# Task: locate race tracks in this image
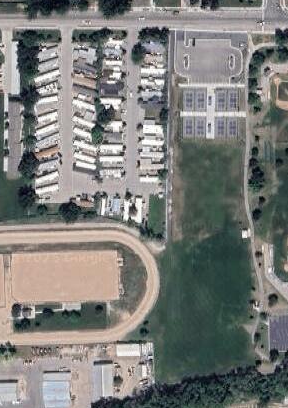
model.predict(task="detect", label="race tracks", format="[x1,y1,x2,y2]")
[0,231,159,343]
